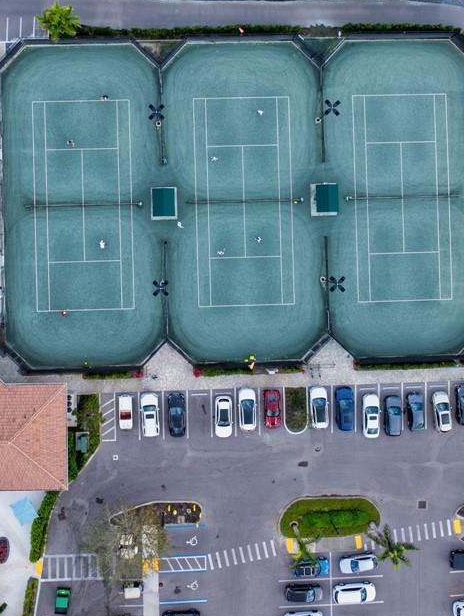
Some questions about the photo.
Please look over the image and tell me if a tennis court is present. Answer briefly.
Yes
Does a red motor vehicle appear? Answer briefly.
Yes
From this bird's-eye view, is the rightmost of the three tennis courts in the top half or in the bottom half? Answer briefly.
top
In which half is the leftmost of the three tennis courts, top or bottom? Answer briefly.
top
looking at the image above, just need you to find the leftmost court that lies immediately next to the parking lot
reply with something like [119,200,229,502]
[1,44,165,370]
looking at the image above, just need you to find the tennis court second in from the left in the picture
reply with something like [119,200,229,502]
[159,43,328,366]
